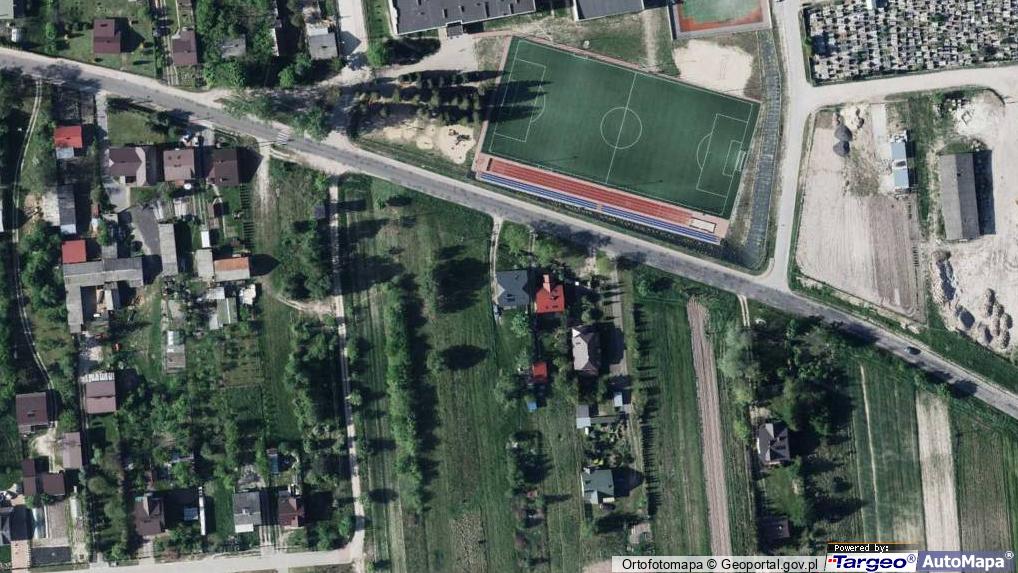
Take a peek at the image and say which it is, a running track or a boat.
running track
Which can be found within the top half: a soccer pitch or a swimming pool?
soccer pitch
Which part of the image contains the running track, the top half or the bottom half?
top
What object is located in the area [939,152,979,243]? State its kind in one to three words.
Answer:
building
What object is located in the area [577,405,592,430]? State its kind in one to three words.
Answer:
shed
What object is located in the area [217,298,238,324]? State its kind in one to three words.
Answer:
greenhouse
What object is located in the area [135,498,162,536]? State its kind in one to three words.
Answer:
house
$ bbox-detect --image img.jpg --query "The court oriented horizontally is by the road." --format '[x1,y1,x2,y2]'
[673,0,771,38]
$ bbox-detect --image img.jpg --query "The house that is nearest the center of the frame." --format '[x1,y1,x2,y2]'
[495,271,532,309]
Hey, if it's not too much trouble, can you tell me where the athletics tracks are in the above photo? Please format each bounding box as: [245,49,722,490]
[488,158,691,223]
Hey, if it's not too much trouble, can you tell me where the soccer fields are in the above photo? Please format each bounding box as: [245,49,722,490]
[481,36,760,219]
